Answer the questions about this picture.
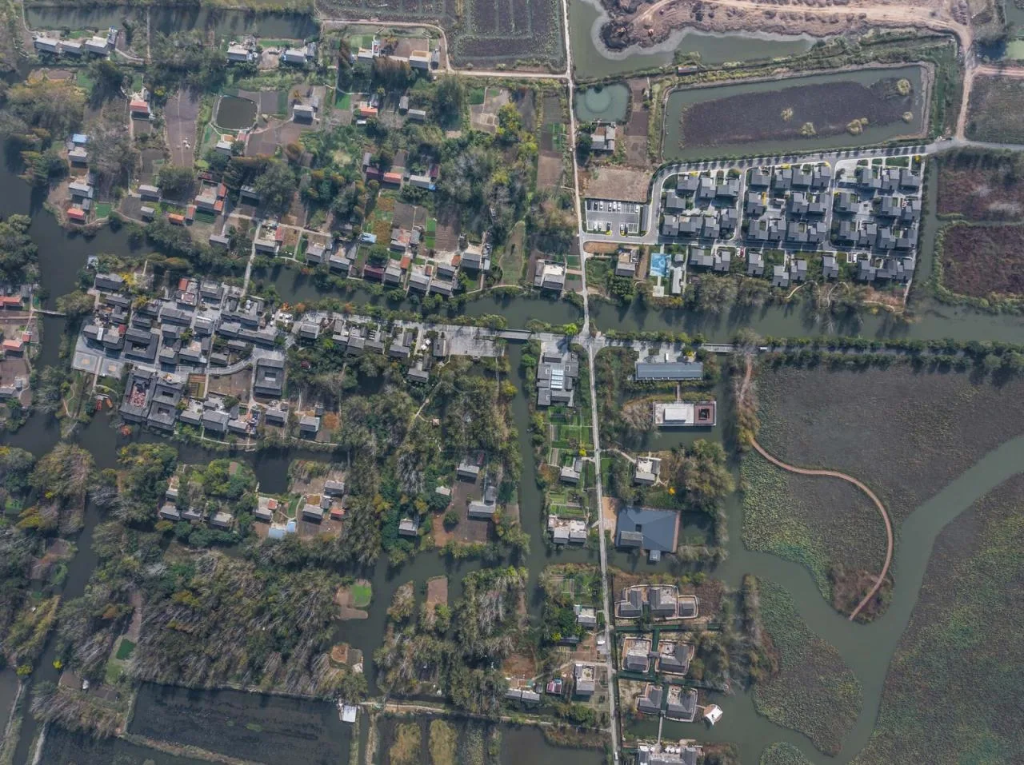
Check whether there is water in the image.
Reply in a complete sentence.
Yes, some water is visible.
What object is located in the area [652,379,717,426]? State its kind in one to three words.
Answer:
building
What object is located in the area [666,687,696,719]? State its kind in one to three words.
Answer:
house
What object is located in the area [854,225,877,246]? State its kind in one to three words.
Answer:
house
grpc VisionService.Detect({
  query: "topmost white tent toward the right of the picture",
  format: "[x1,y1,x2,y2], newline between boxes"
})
[704,705,725,727]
